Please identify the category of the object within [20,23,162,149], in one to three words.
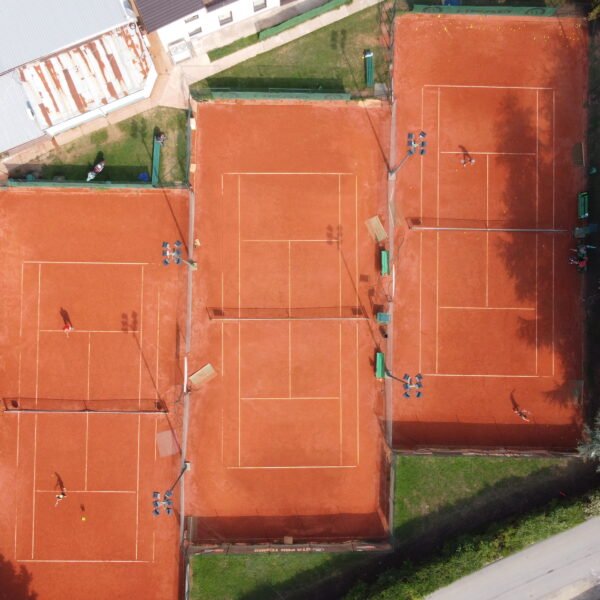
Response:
shed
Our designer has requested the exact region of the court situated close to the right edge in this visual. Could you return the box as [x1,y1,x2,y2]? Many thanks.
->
[393,15,588,457]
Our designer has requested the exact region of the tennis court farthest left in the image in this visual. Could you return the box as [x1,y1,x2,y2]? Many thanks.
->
[0,188,191,600]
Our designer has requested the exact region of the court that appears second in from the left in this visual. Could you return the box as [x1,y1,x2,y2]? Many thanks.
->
[187,100,393,547]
